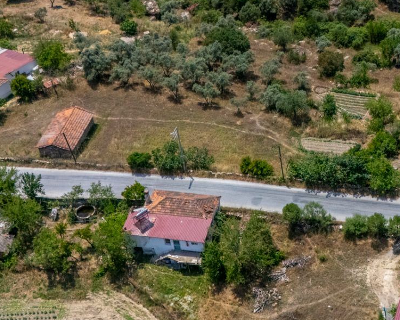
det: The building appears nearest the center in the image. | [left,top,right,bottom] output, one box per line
[124,184,228,274]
